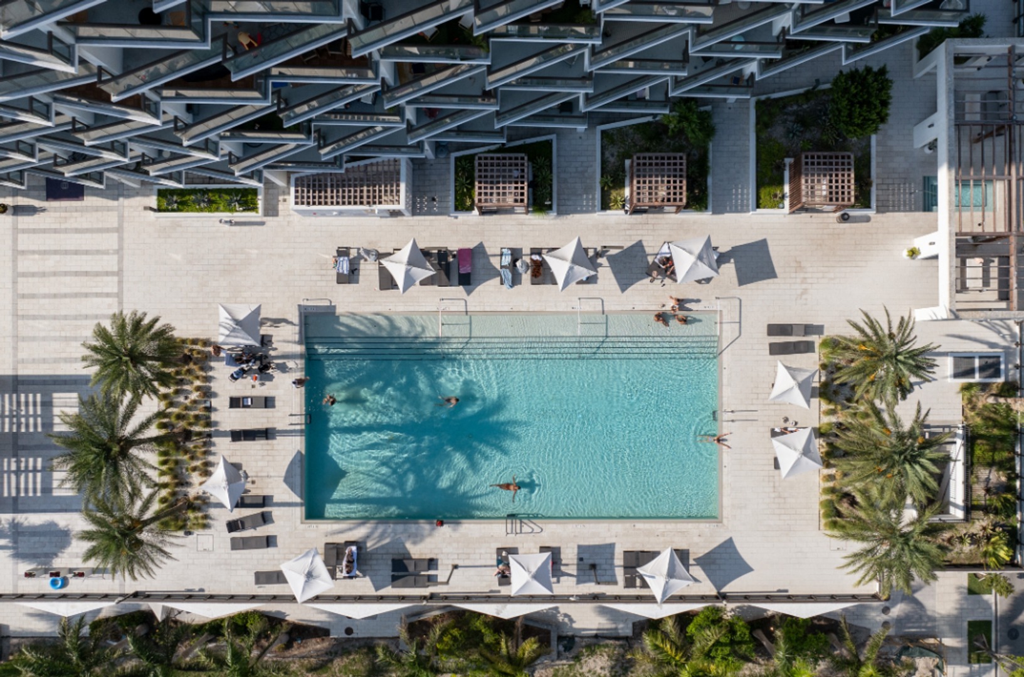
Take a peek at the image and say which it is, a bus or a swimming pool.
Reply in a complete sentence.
The image shows a swimming pool.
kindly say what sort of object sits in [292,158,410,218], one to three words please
building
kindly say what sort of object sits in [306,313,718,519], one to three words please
swimming pool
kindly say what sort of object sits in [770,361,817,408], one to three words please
umbrella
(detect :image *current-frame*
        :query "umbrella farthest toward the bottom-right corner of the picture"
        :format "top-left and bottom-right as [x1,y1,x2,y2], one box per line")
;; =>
[772,427,822,479]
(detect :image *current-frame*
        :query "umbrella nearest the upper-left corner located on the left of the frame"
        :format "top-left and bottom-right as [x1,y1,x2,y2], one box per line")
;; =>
[219,305,260,346]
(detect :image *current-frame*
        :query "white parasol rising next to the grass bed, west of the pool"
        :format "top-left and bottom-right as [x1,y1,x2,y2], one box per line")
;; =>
[201,457,245,511]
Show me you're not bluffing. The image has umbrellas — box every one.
[637,548,694,603]
[280,548,334,603]
[543,237,596,290]
[509,552,553,595]
[201,457,245,511]
[669,236,718,282]
[219,305,260,346]
[770,361,817,408]
[380,239,435,292]
[772,427,822,479]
